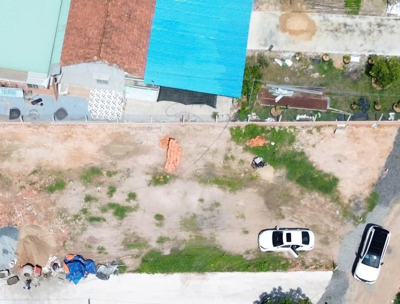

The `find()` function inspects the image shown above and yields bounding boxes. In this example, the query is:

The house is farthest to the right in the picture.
[142,0,252,105]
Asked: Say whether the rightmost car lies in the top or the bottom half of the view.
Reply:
bottom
